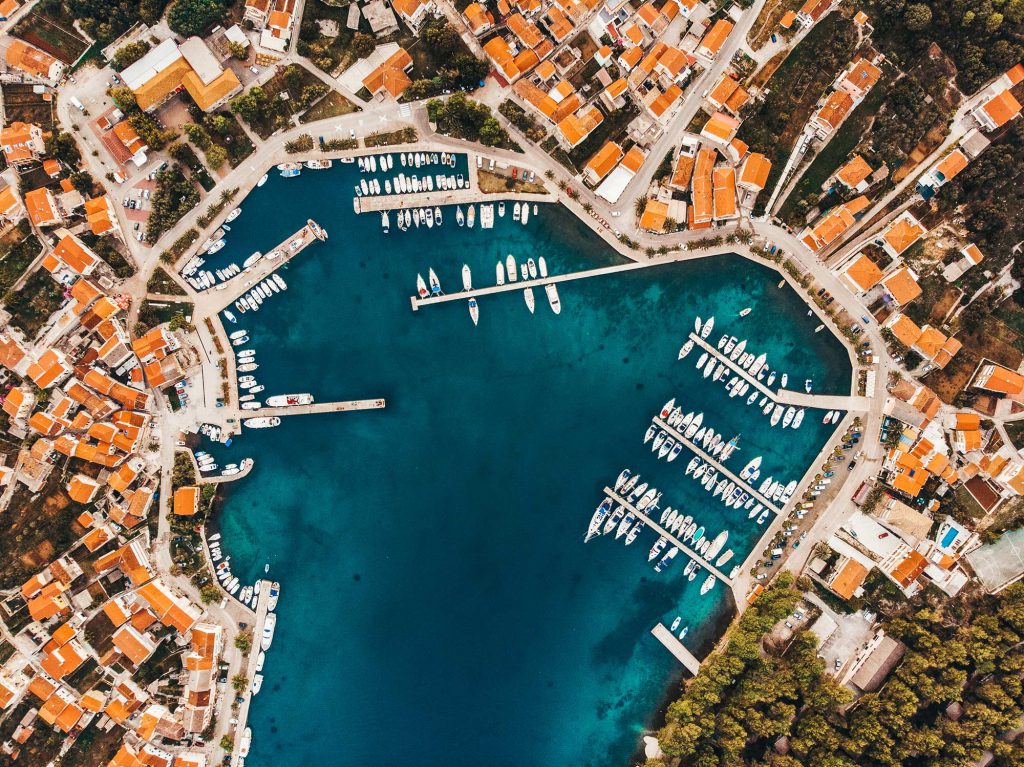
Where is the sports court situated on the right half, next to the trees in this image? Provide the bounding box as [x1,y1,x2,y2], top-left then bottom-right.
[966,523,1024,592]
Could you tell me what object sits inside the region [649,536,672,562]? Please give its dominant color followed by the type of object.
white boat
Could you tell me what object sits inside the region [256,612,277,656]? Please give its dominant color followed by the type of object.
white boat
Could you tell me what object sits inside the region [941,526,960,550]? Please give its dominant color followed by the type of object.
blue swimming pool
